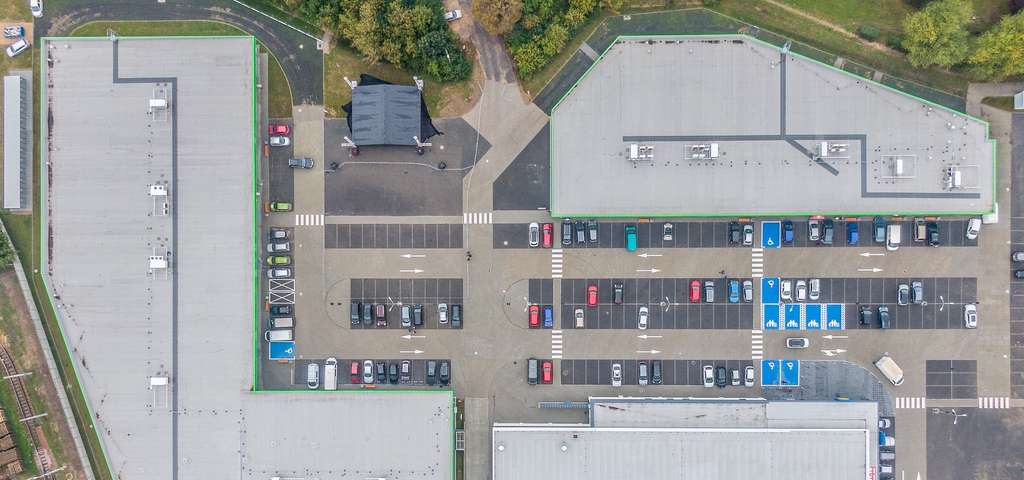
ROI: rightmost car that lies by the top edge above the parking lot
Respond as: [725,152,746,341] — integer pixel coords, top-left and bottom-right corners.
[443,8,464,22]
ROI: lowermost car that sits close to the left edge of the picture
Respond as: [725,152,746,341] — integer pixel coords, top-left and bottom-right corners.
[7,38,31,57]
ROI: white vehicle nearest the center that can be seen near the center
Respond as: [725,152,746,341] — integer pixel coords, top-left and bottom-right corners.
[528,222,540,246]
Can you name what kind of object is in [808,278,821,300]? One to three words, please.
vehicle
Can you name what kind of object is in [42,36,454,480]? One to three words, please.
building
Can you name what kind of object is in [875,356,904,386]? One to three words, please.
truck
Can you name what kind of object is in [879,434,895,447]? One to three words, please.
vehicle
